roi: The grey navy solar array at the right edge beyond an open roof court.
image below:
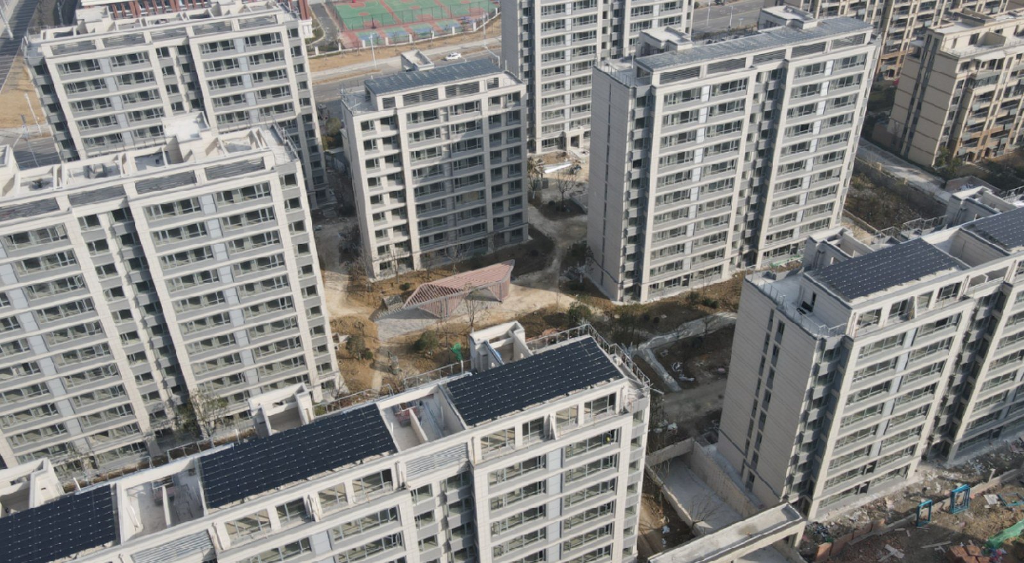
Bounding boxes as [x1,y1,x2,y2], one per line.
[972,209,1024,249]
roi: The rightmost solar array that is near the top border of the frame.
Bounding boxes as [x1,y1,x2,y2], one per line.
[627,17,876,72]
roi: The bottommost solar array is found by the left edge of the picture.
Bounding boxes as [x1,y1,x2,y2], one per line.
[0,482,115,563]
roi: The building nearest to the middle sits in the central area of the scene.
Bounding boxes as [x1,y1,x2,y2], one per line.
[401,255,514,318]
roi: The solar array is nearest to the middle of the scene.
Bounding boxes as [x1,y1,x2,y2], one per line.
[445,339,619,424]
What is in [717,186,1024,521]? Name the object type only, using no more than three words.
building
